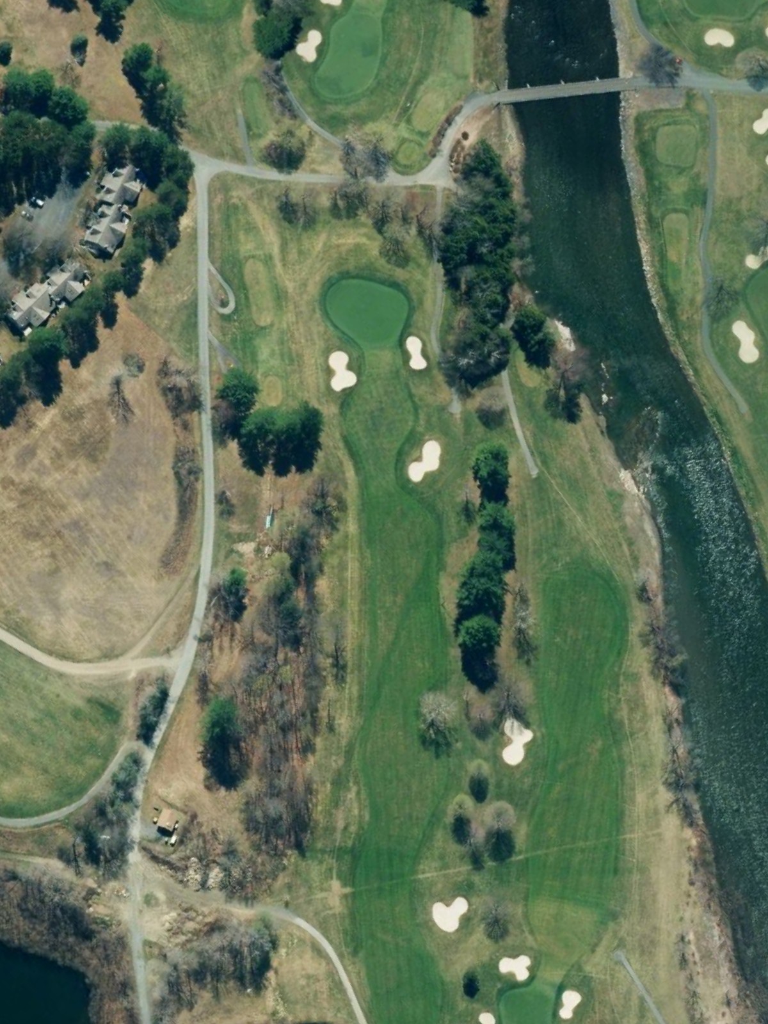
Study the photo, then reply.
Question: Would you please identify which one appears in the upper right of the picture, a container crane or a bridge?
bridge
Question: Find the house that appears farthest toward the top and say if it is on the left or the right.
left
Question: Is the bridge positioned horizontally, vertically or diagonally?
horizontally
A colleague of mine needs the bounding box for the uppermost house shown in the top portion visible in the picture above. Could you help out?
[97,158,142,207]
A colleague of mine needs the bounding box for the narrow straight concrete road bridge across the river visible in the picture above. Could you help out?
[490,70,639,111]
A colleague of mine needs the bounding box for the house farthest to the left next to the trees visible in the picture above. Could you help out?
[6,277,57,329]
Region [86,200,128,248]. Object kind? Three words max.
house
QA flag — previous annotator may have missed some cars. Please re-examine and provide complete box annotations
[30,196,44,207]
[19,209,33,221]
